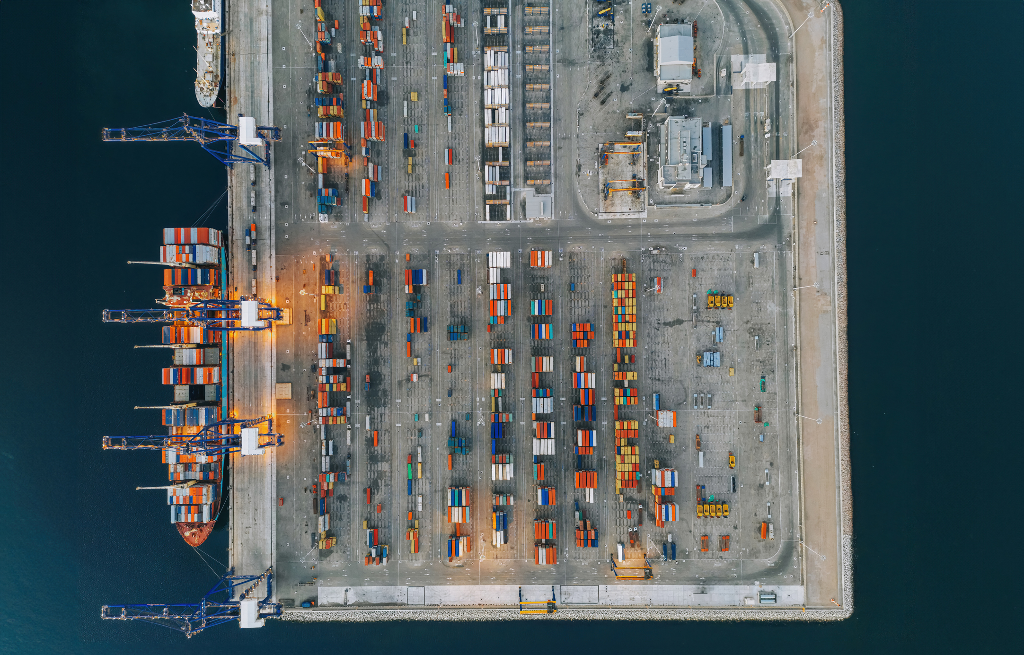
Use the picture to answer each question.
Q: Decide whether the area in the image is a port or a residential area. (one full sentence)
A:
It's a port.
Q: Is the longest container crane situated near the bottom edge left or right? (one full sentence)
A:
The longest container crane situated near the bottom edge sits on the left side.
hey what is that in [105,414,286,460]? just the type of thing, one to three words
container crane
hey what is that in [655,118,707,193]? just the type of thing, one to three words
building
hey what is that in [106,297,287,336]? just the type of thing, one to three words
container crane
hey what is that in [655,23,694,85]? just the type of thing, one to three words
building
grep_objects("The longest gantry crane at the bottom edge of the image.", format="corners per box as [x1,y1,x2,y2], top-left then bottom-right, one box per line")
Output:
[103,566,285,638]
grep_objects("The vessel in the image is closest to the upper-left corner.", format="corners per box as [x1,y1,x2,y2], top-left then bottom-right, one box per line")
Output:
[187,0,225,107]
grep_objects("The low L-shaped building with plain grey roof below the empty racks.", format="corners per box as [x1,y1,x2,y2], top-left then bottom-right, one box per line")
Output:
[526,191,551,220]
